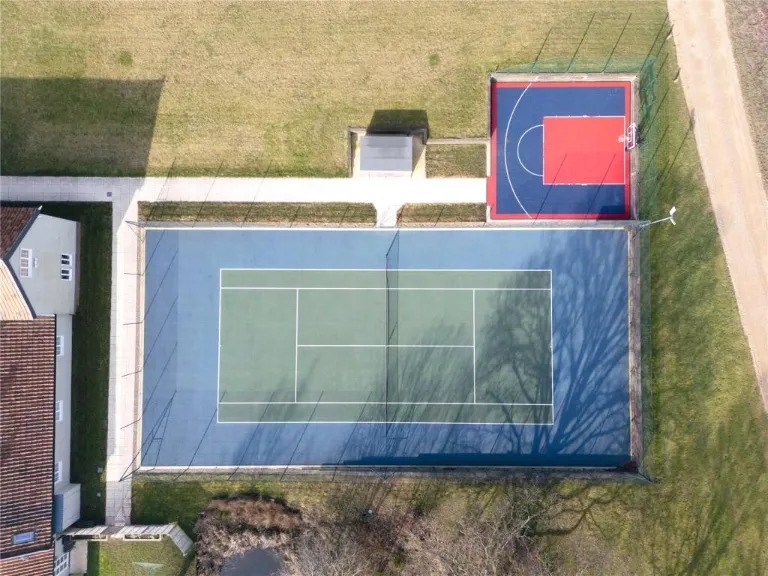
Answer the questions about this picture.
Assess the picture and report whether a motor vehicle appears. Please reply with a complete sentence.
No, this view has no motor vehicle in it.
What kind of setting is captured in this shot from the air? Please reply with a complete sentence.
This image shows a sports ground.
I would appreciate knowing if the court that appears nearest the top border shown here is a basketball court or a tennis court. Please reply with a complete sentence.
In the photo, the court that appears nearest the top border shows up as a basketball court.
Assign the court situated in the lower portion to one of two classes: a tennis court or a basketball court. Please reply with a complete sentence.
The court situated in the lower portion can be classified as a tennis court.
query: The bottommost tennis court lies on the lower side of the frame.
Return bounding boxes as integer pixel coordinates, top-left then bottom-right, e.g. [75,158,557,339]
[139,229,633,469]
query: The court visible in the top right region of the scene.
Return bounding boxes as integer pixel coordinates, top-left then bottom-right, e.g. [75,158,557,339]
[486,81,634,219]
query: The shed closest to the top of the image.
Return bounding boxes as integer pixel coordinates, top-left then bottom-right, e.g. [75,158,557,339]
[360,136,412,177]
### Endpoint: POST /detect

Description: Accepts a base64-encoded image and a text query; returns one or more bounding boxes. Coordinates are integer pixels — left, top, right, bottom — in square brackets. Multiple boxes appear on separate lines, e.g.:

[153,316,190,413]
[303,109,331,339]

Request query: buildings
[360,136,412,177]
[0,207,81,576]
